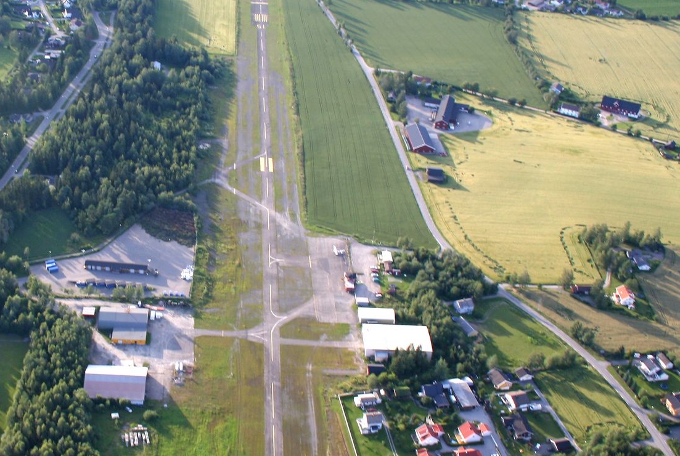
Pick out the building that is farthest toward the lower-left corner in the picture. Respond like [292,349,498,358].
[82,366,148,405]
